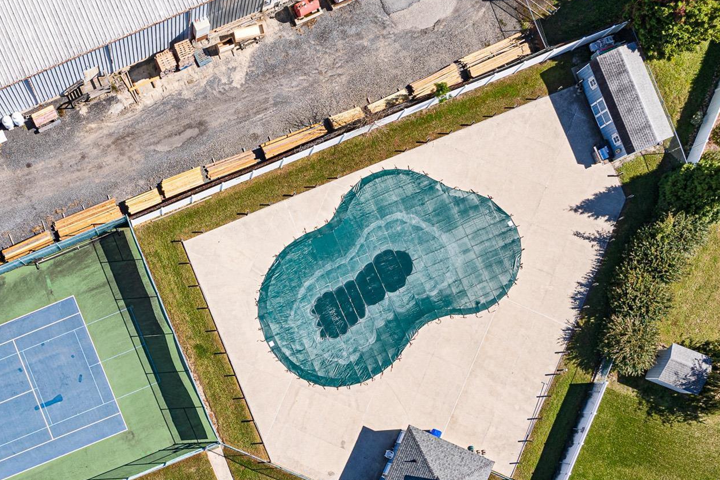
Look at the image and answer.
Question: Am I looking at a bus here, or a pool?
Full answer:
Looking from above, you can make out a pool.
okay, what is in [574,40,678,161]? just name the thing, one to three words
shed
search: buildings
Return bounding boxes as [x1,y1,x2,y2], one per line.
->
[574,40,678,161]
[0,0,264,122]
[381,425,496,480]
[647,343,712,395]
